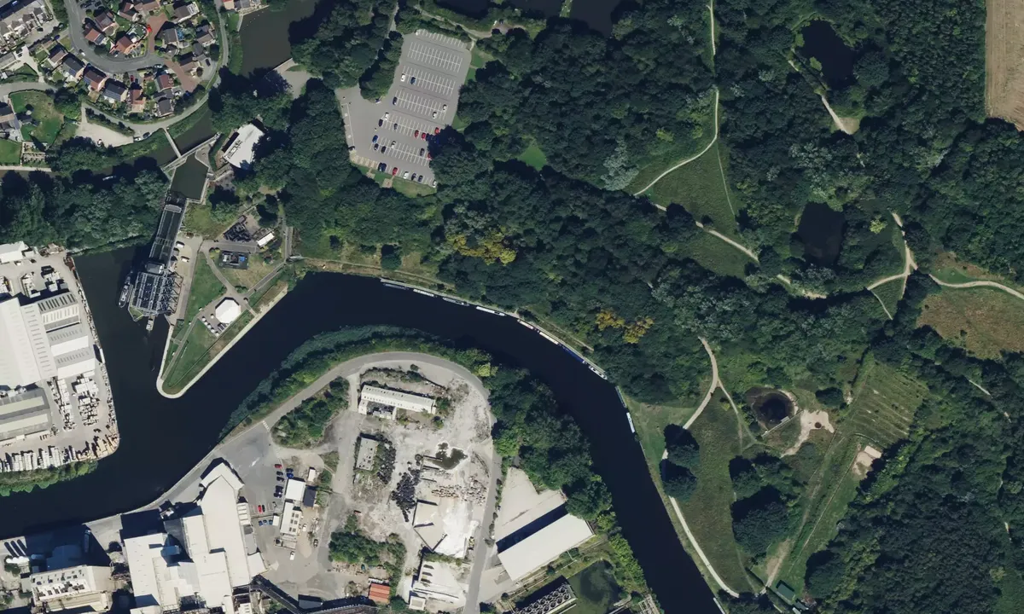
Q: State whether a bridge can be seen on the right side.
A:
No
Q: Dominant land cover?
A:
trees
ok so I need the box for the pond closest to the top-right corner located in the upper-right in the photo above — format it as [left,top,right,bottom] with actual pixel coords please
[801,20,854,88]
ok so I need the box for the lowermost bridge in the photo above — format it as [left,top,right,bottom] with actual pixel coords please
[148,205,185,267]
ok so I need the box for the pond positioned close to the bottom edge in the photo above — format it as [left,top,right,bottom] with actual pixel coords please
[563,560,623,614]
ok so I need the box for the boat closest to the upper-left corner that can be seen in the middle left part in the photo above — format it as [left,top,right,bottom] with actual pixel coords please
[120,270,133,306]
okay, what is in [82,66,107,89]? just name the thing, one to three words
house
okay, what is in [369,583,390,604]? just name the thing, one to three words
shed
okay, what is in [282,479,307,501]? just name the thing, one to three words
building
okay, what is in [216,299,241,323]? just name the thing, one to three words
building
